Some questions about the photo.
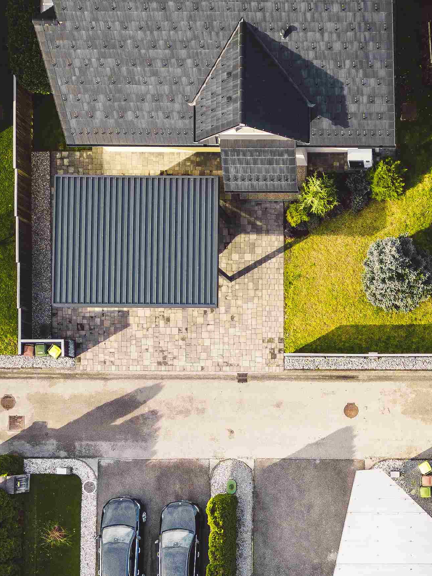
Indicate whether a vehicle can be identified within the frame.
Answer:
Yes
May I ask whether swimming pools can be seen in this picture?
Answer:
No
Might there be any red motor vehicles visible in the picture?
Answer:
No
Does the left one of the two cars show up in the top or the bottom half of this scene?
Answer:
bottom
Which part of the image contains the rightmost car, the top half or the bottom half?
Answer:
bottom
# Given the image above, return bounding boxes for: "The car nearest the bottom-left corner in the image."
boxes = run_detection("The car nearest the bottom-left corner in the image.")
[95,496,149,576]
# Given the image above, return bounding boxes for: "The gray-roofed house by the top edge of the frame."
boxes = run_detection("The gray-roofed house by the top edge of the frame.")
[13,0,397,203]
